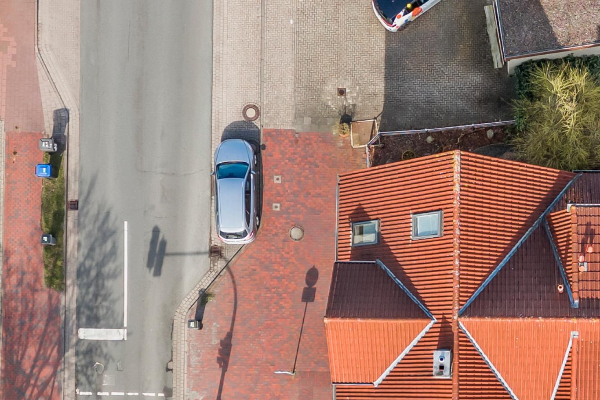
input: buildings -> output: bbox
[497,0,600,68]
[324,149,600,400]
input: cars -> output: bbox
[208,138,260,242]
[371,0,445,31]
